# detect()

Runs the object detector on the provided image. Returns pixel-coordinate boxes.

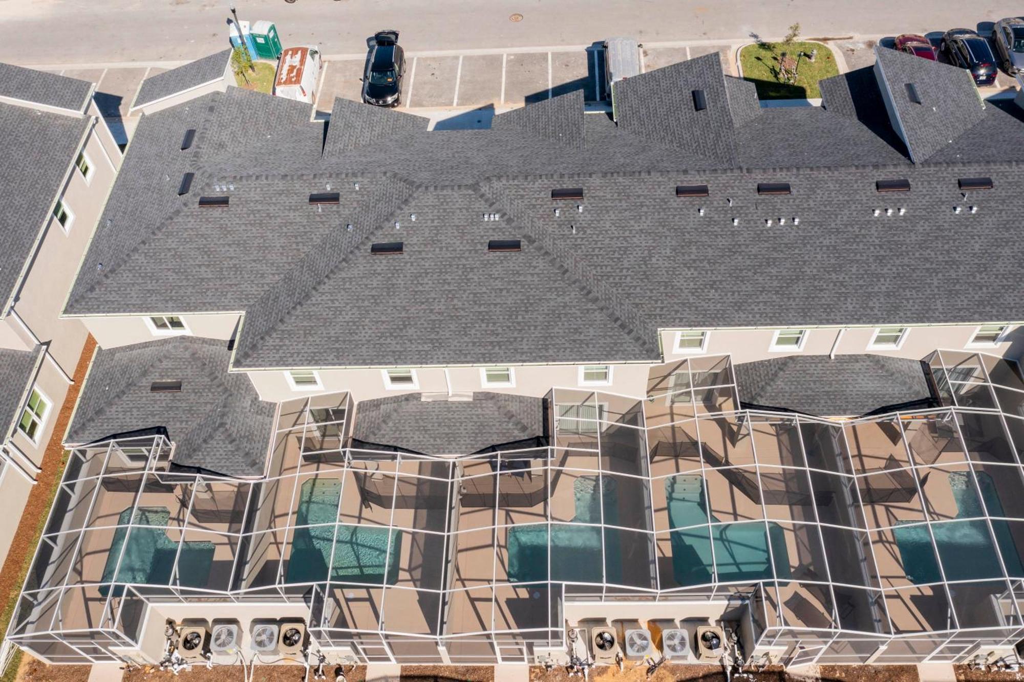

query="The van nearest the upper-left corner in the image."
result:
[274,46,324,106]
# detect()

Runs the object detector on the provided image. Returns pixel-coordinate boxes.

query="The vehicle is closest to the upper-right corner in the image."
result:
[992,19,1024,74]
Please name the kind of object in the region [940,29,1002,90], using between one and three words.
car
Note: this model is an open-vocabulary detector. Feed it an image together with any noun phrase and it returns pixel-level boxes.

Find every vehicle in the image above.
[896,37,949,66]
[602,43,644,111]
[992,19,1024,74]
[361,26,406,109]
[940,29,1002,90]
[274,46,324,106]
